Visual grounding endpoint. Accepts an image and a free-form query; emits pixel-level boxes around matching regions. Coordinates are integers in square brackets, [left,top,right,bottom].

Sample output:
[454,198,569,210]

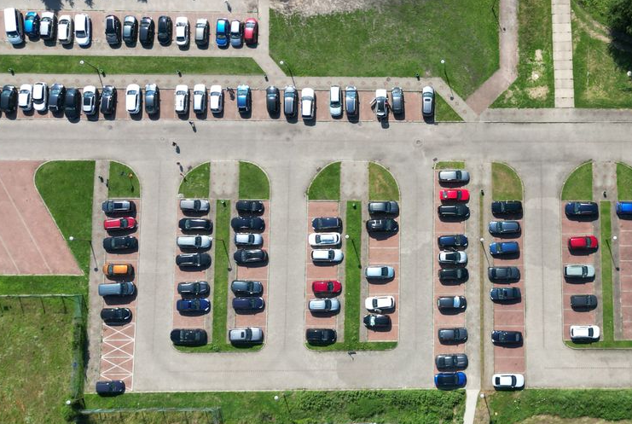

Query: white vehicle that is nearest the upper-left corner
[2,6,24,45]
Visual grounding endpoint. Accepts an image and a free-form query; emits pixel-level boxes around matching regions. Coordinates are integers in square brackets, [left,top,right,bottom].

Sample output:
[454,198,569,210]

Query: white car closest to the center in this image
[309,232,341,247]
